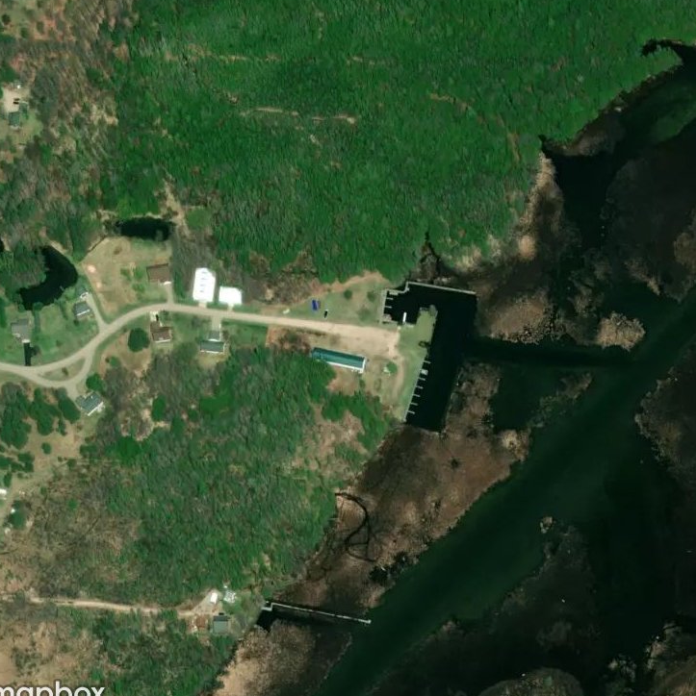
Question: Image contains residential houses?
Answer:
Yes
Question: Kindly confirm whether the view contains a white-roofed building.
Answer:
Yes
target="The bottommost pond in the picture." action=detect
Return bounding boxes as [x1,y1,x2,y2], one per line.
[20,246,78,310]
